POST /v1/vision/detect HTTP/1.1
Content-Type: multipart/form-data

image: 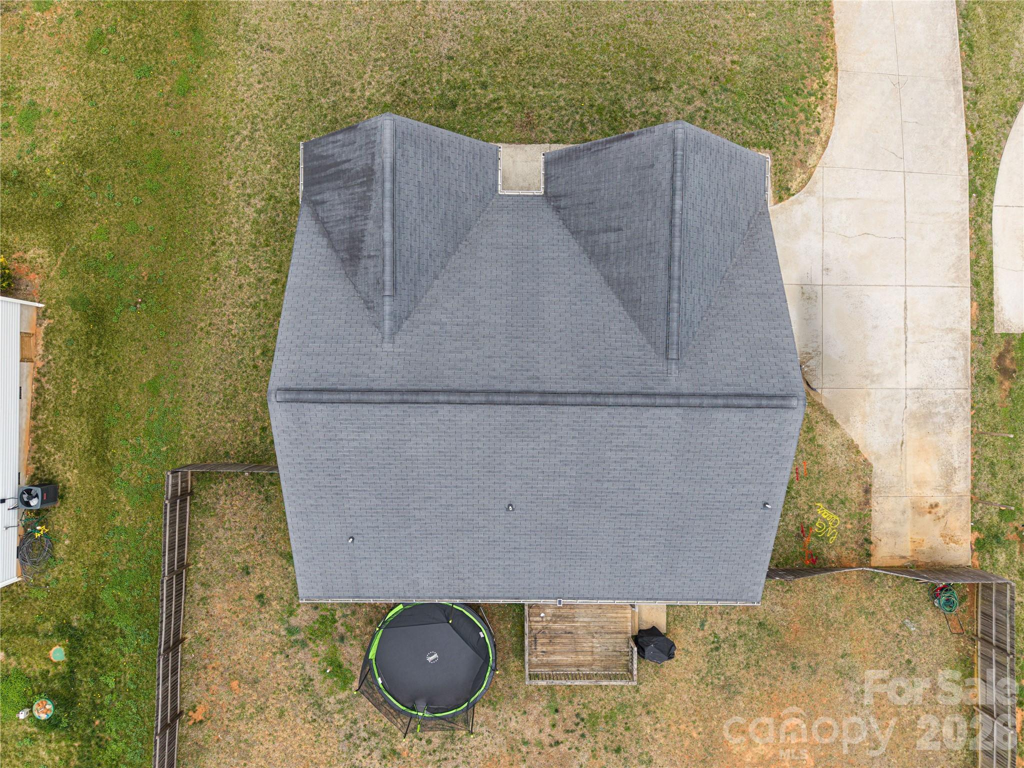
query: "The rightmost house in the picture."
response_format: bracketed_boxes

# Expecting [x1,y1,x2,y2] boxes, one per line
[267,114,810,607]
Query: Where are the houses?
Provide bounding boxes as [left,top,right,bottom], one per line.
[0,298,46,588]
[267,114,810,607]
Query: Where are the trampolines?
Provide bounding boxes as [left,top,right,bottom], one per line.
[354,603,499,741]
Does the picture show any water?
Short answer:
No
